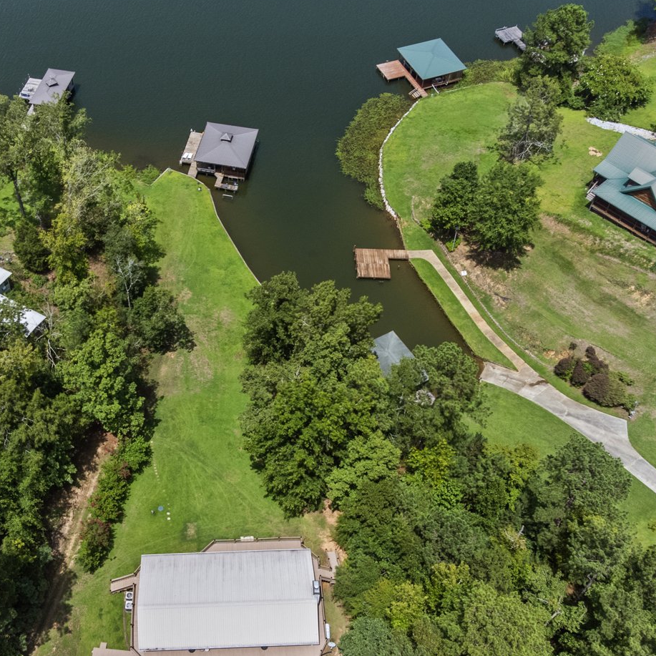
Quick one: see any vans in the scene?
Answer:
No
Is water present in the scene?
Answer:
Yes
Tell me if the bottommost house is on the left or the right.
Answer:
left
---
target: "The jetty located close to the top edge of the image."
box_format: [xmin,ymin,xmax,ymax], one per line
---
[494,20,523,58]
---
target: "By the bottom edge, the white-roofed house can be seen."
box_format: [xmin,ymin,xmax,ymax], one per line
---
[91,532,340,656]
